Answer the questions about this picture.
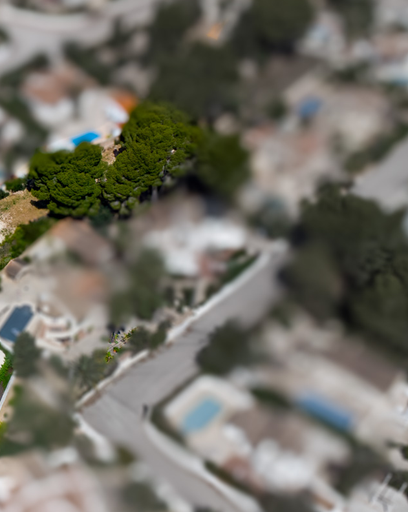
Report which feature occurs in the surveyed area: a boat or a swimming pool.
swimming pool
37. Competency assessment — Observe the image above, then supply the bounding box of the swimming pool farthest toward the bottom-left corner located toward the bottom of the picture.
[0,300,40,345]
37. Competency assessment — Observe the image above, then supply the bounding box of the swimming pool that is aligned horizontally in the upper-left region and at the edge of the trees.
[66,129,105,146]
